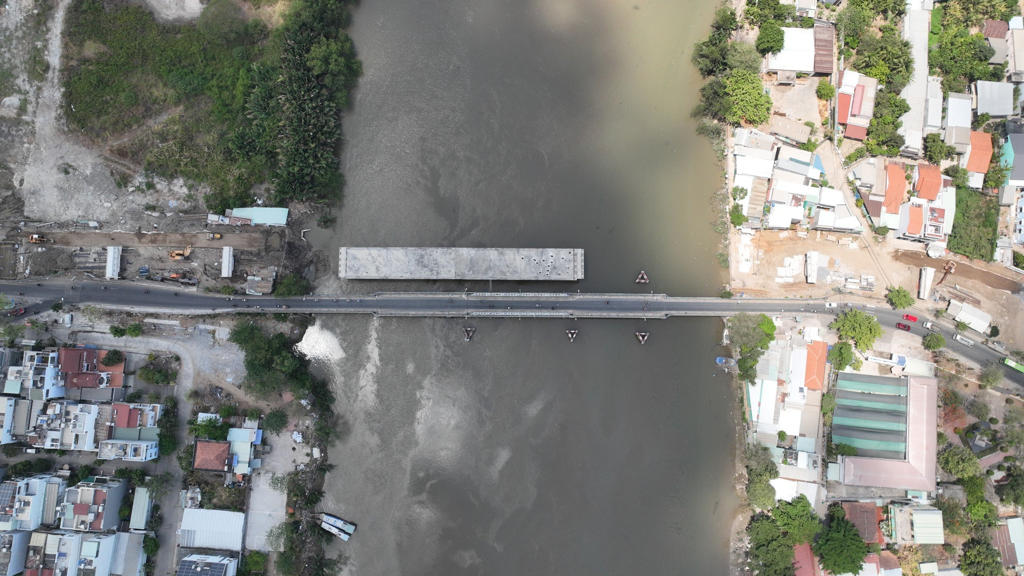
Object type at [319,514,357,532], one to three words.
boat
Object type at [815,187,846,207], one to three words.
house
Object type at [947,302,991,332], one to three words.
shed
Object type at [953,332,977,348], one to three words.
vehicle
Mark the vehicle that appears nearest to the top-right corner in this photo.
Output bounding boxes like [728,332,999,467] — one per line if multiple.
[935,258,962,287]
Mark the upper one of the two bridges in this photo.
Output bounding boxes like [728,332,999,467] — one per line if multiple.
[337,247,584,281]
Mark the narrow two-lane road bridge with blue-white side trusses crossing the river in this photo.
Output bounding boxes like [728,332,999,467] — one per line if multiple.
[255,291,785,320]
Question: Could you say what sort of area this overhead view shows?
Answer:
residential area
